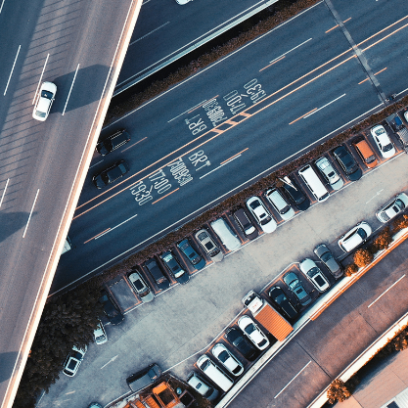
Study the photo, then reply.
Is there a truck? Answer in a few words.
Yes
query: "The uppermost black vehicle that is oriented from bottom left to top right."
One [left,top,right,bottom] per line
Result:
[96,127,133,157]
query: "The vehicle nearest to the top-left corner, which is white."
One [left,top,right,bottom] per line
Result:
[32,82,57,124]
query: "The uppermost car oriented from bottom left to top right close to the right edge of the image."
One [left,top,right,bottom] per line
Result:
[375,193,408,224]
